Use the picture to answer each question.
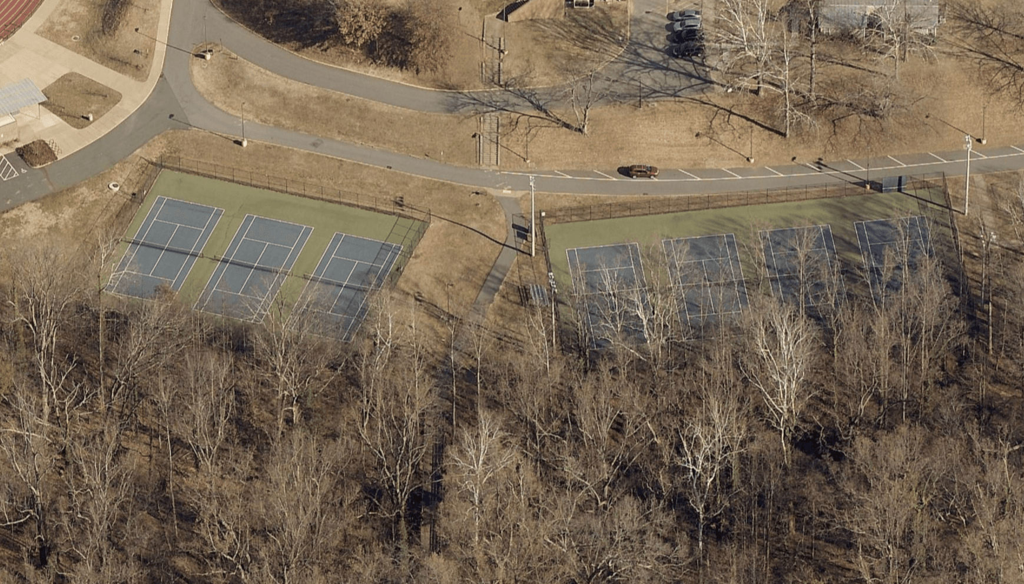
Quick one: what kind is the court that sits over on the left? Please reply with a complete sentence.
In the photo, the court that sits over on the left shows up as a tennis court.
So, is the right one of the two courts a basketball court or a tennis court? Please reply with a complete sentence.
The right one of the two courts in the image is a tennis court.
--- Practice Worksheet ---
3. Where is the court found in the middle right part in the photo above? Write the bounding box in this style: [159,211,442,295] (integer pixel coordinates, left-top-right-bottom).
[543,187,981,372]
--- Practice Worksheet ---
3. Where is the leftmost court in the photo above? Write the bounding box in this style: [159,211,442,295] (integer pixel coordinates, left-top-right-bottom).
[86,169,427,363]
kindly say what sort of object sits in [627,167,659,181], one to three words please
car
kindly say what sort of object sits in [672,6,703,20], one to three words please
car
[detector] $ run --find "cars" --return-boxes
[674,30,705,44]
[674,41,705,57]
[627,167,659,181]
[673,17,704,32]
[672,6,703,20]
